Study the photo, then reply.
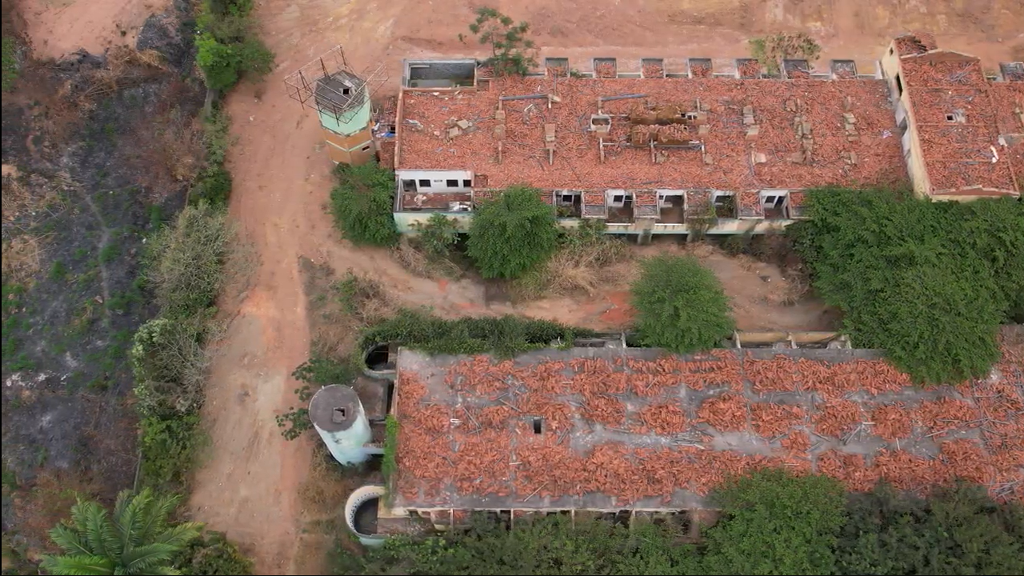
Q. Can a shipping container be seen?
No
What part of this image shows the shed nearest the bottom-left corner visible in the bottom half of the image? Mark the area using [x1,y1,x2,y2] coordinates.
[359,378,391,431]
